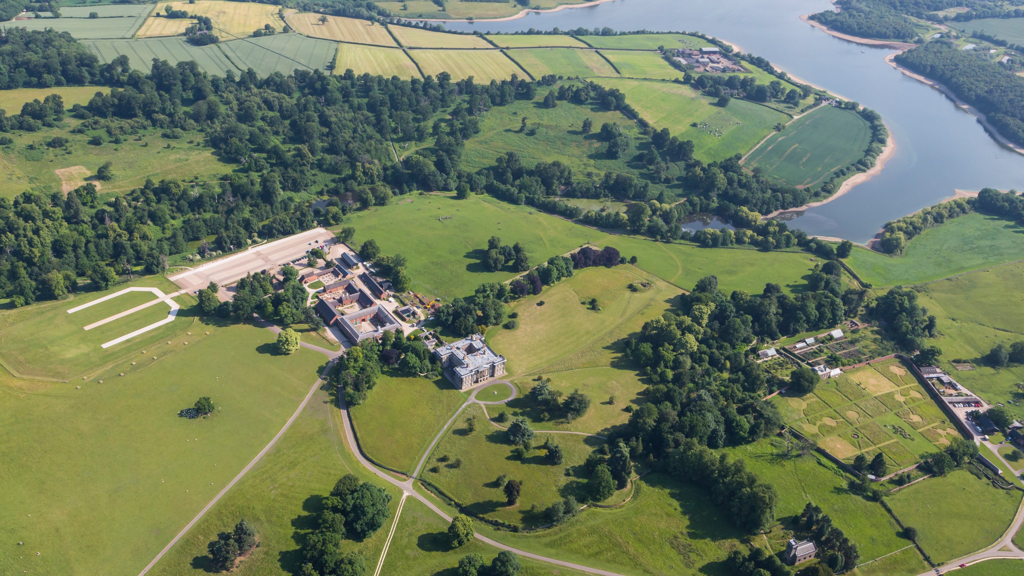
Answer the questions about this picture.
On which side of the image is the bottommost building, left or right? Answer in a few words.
right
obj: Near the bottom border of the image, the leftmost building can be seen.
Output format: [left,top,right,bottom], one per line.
[780,539,817,566]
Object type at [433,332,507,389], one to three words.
house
